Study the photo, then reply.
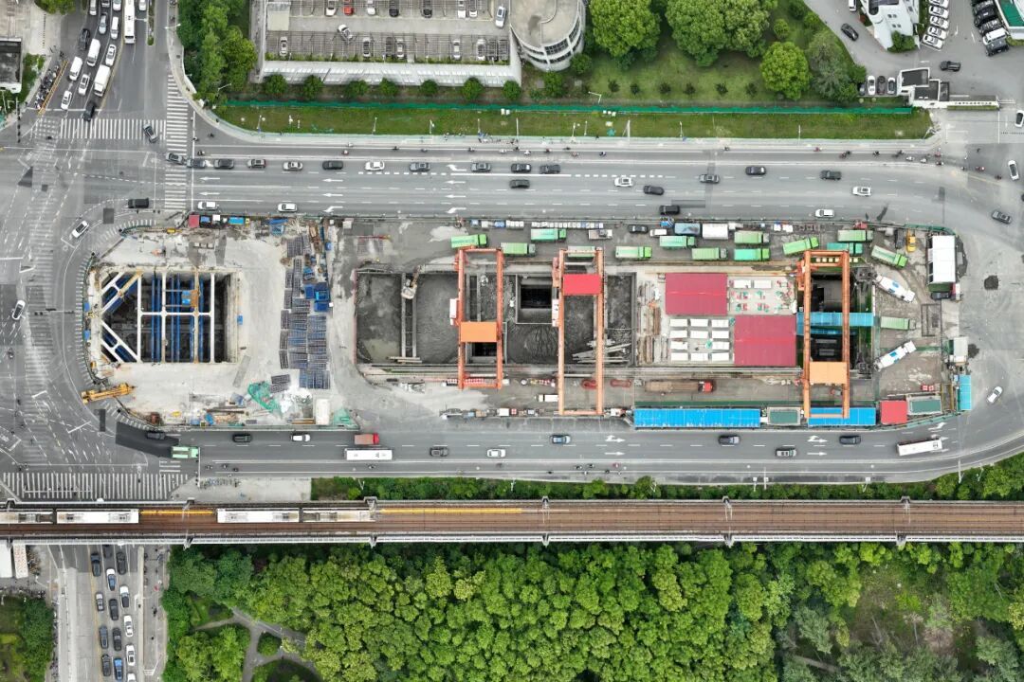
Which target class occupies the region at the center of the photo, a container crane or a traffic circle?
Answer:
container crane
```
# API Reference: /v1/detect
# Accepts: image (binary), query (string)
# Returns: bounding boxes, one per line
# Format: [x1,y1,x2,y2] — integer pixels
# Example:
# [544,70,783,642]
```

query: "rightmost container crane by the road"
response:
[793,250,853,427]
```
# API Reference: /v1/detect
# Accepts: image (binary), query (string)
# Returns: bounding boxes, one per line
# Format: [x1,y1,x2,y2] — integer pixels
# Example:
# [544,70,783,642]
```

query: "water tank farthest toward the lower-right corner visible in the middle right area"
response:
[906,395,942,416]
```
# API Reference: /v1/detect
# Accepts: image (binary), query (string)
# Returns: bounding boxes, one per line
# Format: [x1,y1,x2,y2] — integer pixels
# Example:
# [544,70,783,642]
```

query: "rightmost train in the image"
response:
[217,507,378,522]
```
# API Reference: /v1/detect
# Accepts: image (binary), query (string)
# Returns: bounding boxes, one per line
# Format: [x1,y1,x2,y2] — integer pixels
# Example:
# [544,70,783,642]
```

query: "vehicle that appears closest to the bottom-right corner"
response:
[896,437,947,456]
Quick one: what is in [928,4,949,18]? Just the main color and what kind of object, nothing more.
white car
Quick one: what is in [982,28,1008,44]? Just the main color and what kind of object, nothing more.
white vehicle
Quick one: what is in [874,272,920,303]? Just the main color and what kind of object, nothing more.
white truck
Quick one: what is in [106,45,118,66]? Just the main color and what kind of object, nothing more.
white vehicle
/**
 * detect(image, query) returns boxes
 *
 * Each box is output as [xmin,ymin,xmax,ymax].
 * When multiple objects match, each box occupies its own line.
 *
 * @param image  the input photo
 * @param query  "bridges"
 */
[0,497,1024,549]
